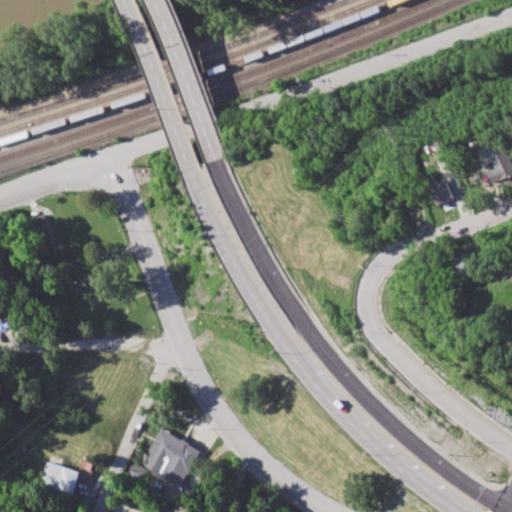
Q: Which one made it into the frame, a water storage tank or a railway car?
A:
railway car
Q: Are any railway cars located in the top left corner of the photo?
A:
Yes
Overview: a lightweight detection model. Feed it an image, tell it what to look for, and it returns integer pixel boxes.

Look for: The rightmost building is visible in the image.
[480,145,512,184]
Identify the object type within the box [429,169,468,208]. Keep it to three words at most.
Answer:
house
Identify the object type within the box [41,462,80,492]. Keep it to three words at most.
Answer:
house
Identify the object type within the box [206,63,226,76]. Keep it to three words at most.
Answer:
rail car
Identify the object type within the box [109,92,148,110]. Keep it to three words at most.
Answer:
rail car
